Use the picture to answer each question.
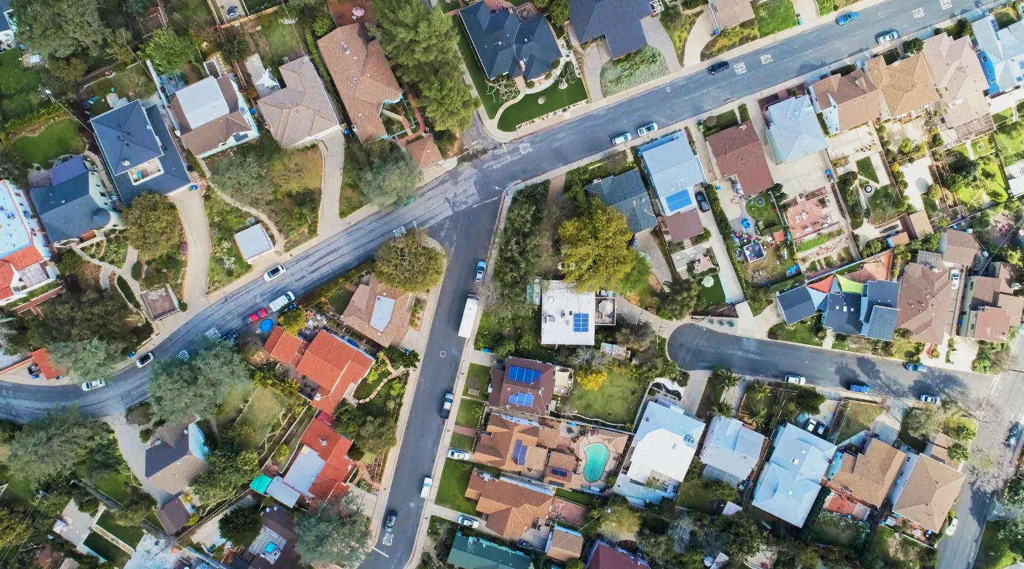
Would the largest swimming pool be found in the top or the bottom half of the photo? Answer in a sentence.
The largest swimming pool is in the bottom half of the image.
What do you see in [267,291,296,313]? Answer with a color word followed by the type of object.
white car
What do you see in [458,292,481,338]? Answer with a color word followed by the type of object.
white camper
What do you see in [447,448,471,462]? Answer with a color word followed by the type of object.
white car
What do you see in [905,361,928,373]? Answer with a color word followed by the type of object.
blue vehicle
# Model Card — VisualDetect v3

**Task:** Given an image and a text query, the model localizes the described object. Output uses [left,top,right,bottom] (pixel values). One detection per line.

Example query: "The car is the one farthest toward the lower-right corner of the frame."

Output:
[941,515,960,538]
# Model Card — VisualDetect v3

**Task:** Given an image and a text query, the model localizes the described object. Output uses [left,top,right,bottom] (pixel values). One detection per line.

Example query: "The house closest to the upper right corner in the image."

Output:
[954,18,1024,96]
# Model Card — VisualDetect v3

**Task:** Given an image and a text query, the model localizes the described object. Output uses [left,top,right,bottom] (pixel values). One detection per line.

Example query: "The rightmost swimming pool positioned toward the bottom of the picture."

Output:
[582,442,610,484]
